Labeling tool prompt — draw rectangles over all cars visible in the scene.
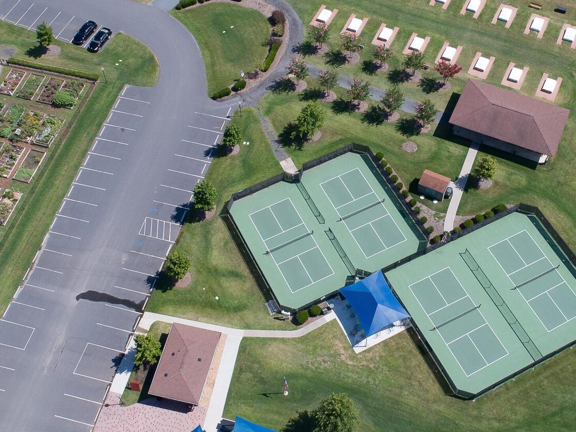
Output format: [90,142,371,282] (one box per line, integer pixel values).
[87,27,111,51]
[73,20,97,44]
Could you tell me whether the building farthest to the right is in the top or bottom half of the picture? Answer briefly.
top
